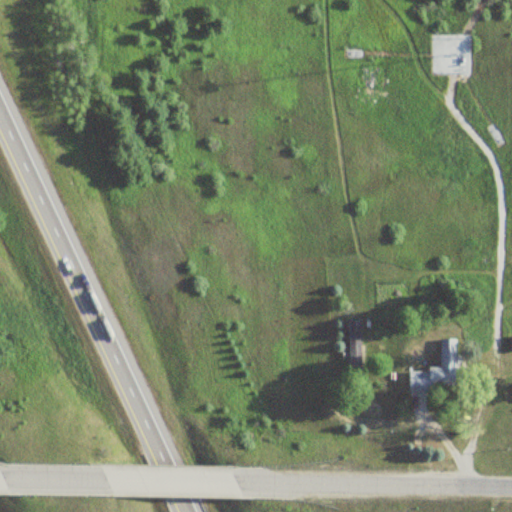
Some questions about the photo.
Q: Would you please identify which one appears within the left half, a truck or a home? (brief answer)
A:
truck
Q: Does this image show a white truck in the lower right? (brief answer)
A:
No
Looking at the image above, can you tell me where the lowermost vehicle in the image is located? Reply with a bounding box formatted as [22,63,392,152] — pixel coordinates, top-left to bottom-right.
[78,272,114,340]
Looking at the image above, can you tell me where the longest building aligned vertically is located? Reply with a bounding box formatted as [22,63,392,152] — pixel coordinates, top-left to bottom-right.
[350,318,366,366]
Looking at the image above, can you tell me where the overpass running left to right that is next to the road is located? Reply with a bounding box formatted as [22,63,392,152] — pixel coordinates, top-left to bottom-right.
[102,464,244,497]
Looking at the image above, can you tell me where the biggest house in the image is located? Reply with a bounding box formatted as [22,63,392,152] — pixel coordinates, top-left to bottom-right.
[410,338,466,392]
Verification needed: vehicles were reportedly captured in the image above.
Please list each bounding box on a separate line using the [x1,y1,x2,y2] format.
[78,272,114,340]
[62,256,72,271]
